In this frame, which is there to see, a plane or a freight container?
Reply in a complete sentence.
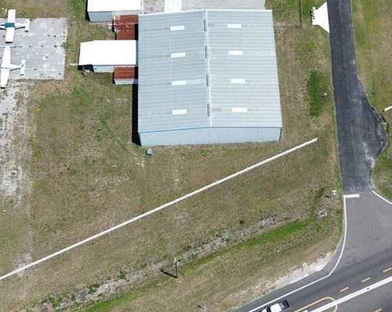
It is a plane that can be seen here.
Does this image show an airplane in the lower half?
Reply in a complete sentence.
No, there's no airplane to be seen in the lower half.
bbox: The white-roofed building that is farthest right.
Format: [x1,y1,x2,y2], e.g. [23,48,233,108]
[139,7,282,144]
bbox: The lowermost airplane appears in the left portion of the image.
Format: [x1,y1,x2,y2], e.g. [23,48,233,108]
[0,46,29,87]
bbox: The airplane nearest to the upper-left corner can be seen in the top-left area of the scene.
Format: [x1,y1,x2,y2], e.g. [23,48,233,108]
[0,9,33,41]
